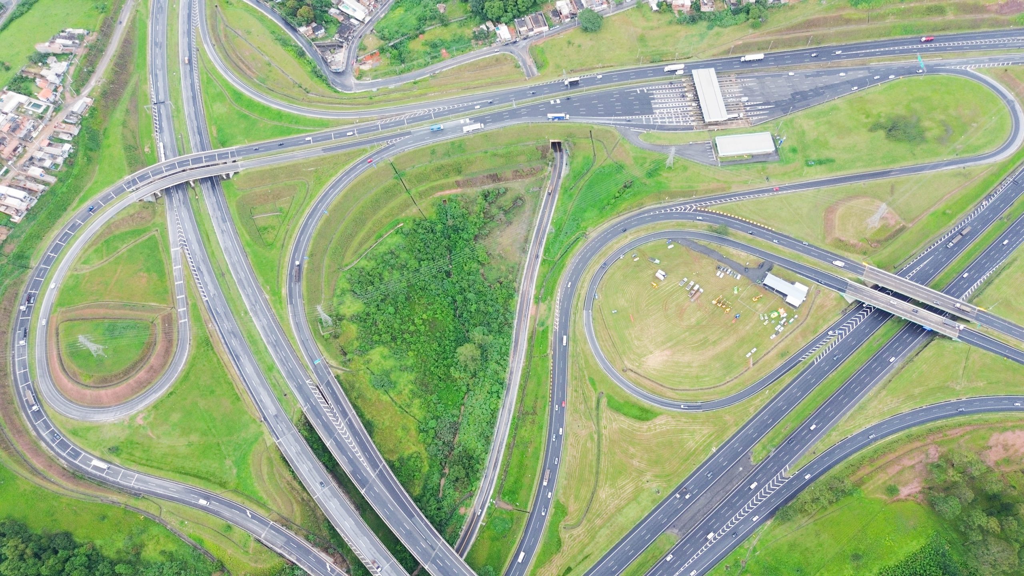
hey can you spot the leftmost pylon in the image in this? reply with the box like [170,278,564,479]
[79,332,105,357]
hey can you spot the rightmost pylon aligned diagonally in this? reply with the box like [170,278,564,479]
[866,199,892,230]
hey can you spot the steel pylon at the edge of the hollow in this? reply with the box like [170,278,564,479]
[318,304,335,329]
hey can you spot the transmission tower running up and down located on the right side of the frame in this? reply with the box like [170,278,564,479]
[664,144,676,170]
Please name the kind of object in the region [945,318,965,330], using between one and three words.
vehicle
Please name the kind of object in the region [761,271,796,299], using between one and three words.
shed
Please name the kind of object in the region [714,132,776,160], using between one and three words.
building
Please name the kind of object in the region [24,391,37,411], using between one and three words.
vehicle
